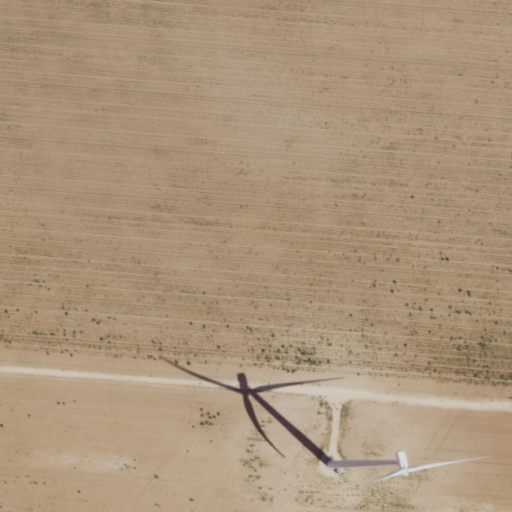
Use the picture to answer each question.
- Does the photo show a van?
No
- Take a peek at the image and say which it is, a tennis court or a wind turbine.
wind turbine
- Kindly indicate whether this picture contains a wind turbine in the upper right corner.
No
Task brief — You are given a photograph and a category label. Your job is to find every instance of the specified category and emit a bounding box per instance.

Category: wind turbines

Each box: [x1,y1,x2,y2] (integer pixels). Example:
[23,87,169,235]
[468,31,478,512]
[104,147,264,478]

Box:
[325,451,498,490]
